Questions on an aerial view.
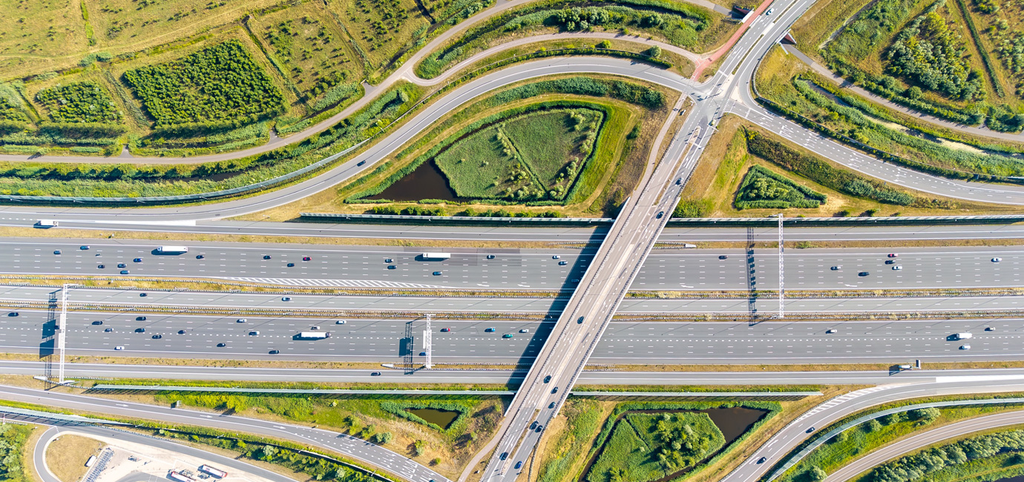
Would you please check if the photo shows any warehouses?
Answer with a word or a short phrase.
No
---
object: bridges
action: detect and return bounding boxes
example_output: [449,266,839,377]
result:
[505,194,682,422]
